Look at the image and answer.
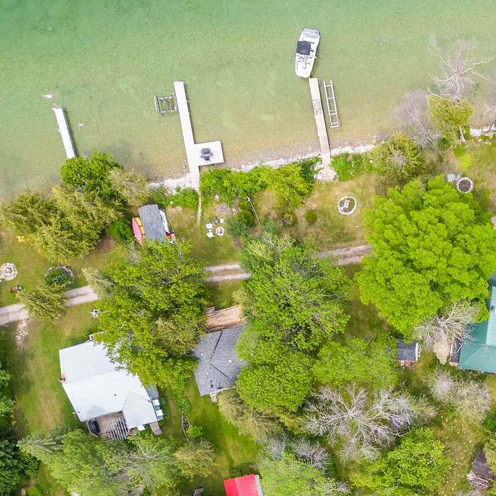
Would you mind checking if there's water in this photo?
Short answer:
Yes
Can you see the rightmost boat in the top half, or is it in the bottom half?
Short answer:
top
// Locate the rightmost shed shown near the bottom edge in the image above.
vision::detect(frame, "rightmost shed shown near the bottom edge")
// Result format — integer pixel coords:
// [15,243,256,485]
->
[473,450,491,475]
